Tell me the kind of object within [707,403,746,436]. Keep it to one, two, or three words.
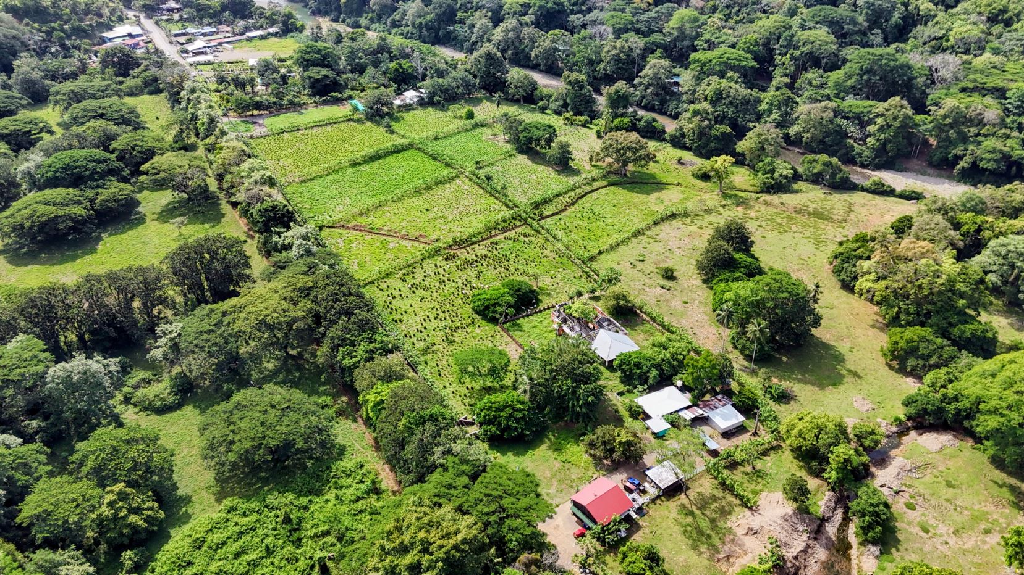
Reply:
house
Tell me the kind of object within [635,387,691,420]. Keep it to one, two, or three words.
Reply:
house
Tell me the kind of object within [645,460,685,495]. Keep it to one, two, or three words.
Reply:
shed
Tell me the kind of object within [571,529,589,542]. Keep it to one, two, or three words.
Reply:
vehicle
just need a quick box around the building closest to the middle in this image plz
[592,333,641,368]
